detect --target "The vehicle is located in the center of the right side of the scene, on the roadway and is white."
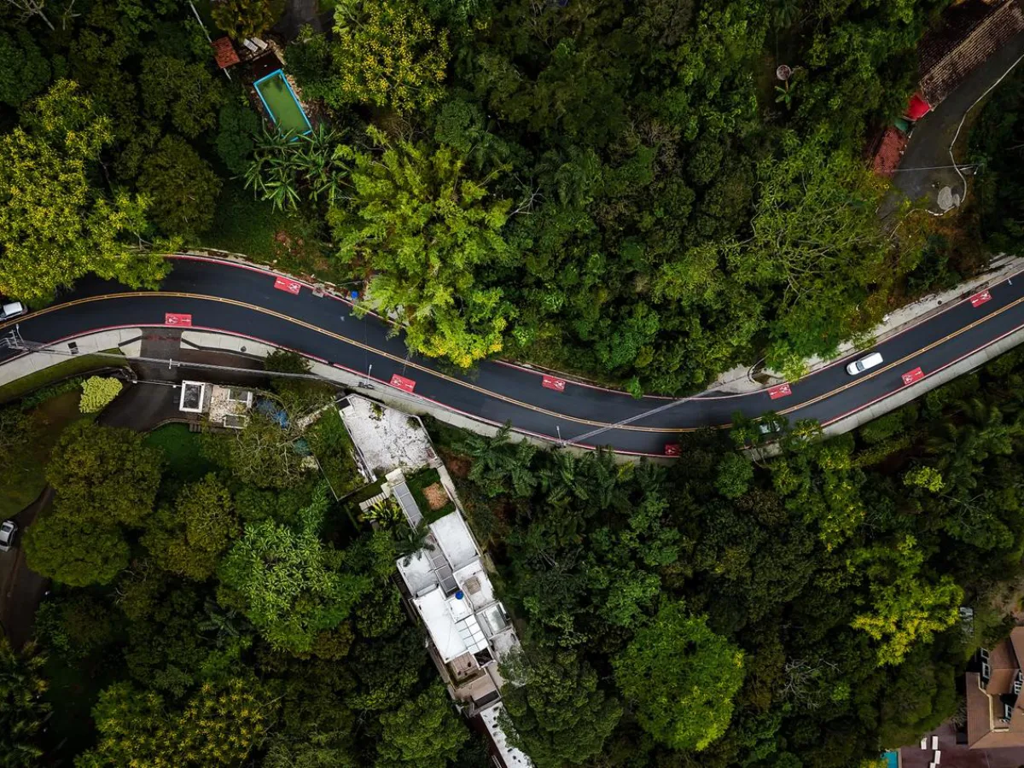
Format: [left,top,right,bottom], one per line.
[845,349,884,377]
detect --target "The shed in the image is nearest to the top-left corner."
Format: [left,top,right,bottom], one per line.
[215,37,241,69]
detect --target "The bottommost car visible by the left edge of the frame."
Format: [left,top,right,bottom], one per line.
[0,515,20,555]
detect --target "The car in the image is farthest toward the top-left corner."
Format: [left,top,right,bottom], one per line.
[0,299,27,322]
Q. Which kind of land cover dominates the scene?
trees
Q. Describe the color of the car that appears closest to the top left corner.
white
